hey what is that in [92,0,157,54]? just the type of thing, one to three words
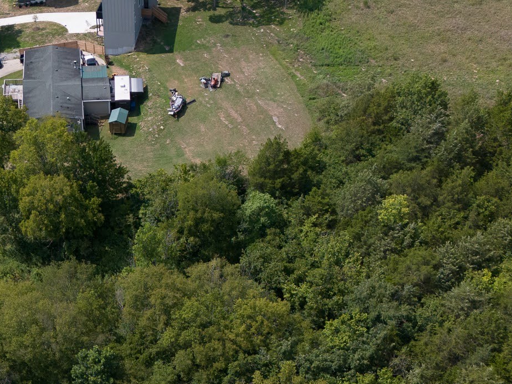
house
